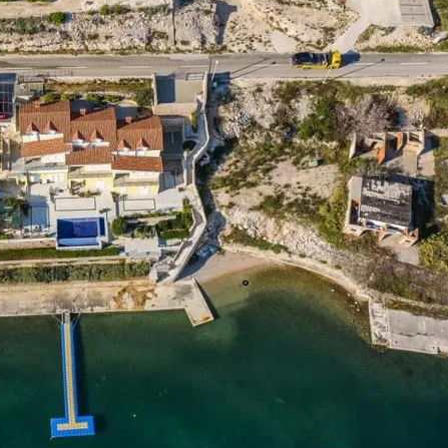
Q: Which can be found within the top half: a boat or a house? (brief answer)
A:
house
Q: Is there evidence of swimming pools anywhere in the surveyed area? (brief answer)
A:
Yes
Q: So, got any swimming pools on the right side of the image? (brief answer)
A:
No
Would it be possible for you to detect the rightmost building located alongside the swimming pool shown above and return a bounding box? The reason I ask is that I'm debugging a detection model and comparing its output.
[19,101,164,196]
